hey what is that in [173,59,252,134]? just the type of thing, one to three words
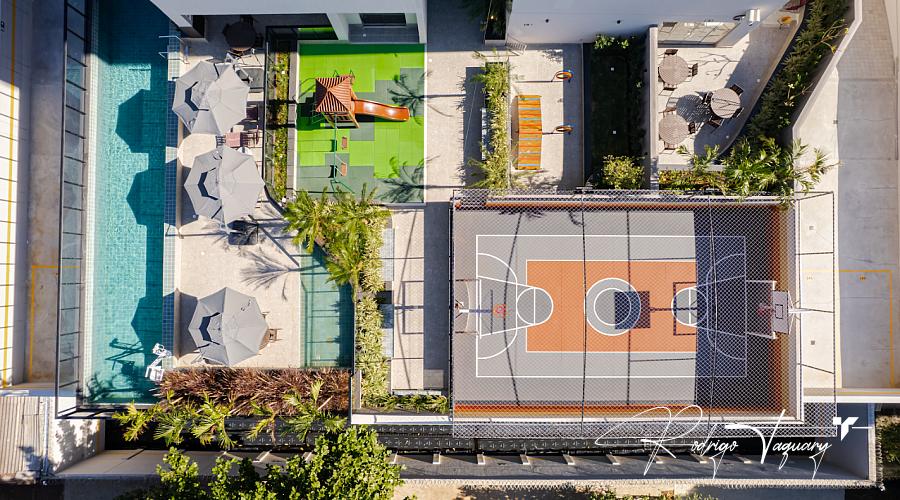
umbrella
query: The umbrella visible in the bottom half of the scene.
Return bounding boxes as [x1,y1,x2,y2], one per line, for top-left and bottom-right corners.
[187,286,271,368]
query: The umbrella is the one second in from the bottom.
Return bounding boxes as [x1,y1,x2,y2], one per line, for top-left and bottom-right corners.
[184,146,265,228]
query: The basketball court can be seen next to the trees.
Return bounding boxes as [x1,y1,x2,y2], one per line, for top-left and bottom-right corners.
[454,208,769,404]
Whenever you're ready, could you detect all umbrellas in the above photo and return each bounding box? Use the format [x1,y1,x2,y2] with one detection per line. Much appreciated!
[184,146,265,228]
[173,59,252,134]
[187,286,271,368]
